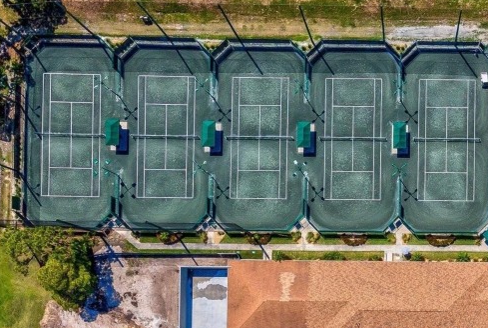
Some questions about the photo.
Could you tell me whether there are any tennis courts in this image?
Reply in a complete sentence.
Yes, looking at the shot, I can spot a tennis court.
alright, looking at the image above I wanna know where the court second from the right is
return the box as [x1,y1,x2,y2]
[308,47,400,235]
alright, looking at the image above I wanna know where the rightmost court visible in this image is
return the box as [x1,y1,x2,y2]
[400,48,488,236]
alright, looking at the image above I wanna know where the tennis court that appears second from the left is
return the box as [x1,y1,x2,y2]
[122,45,216,232]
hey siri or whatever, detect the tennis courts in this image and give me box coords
[308,47,400,235]
[215,46,310,233]
[122,45,216,232]
[400,48,488,236]
[32,42,122,228]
